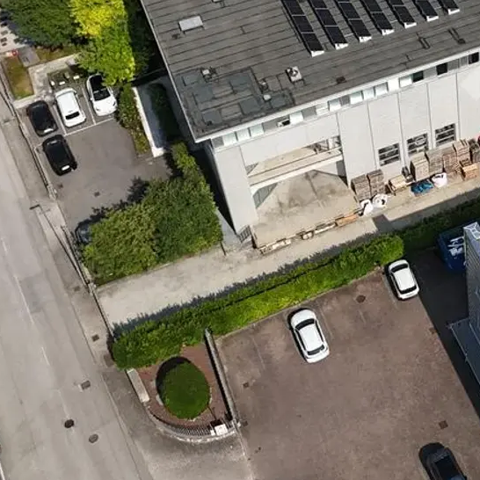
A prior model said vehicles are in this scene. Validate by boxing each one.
[383,259,423,305]
[42,133,78,178]
[421,438,467,480]
[88,79,118,116]
[25,101,58,139]
[54,91,87,129]
[288,310,328,365]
